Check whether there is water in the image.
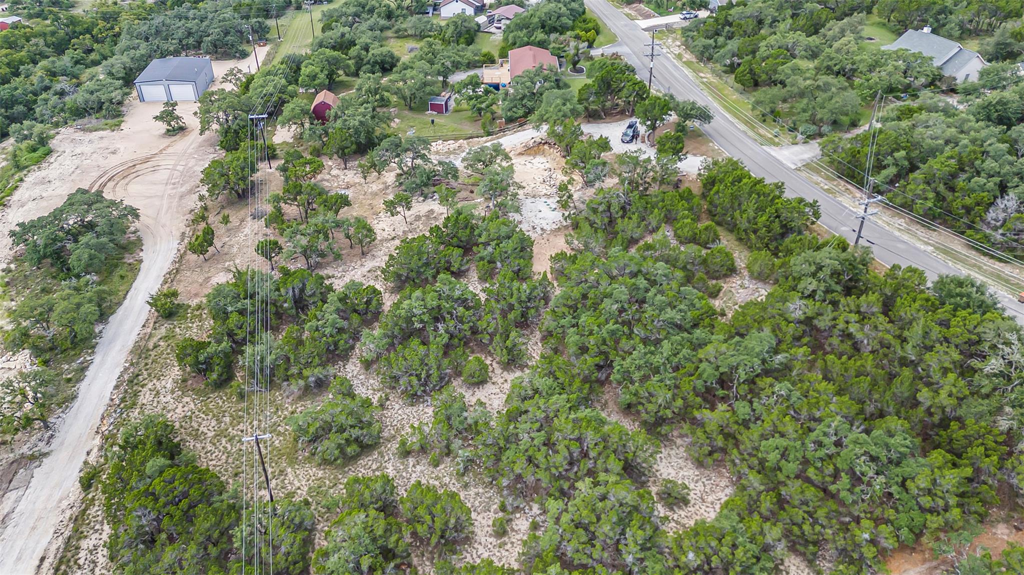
No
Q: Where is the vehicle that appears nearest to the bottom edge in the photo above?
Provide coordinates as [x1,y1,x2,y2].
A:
[622,120,641,141]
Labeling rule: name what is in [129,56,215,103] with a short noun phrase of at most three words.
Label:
building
